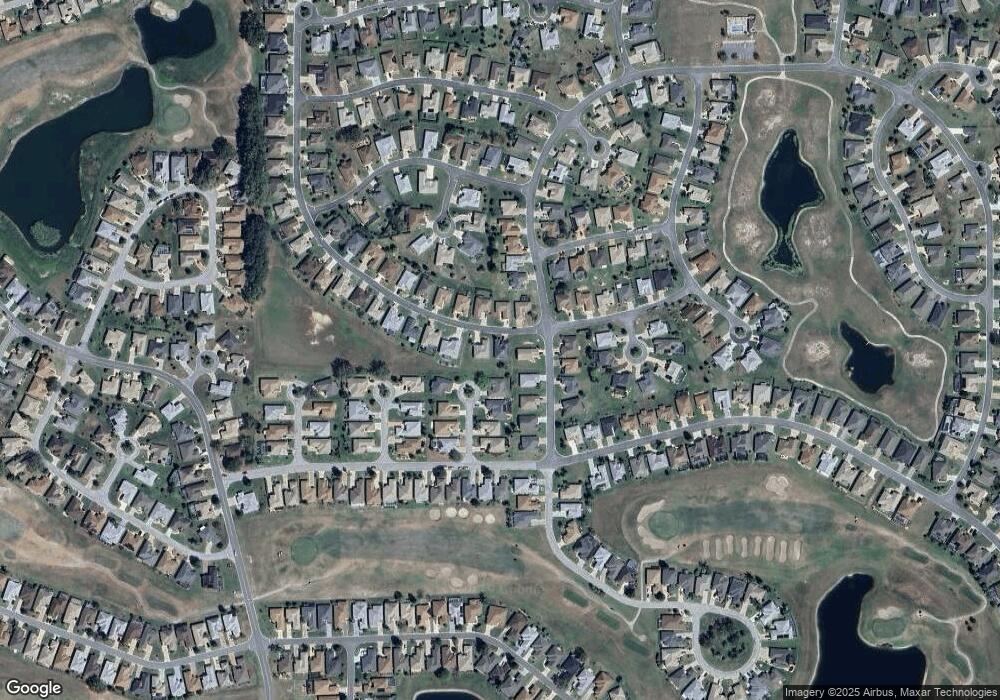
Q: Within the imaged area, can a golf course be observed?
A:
Yes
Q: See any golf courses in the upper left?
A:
Yes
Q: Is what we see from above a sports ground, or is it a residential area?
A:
residential area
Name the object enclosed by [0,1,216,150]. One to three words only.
golf course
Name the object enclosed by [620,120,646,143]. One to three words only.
house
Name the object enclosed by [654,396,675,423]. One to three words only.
house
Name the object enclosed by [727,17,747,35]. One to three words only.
swimming pool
